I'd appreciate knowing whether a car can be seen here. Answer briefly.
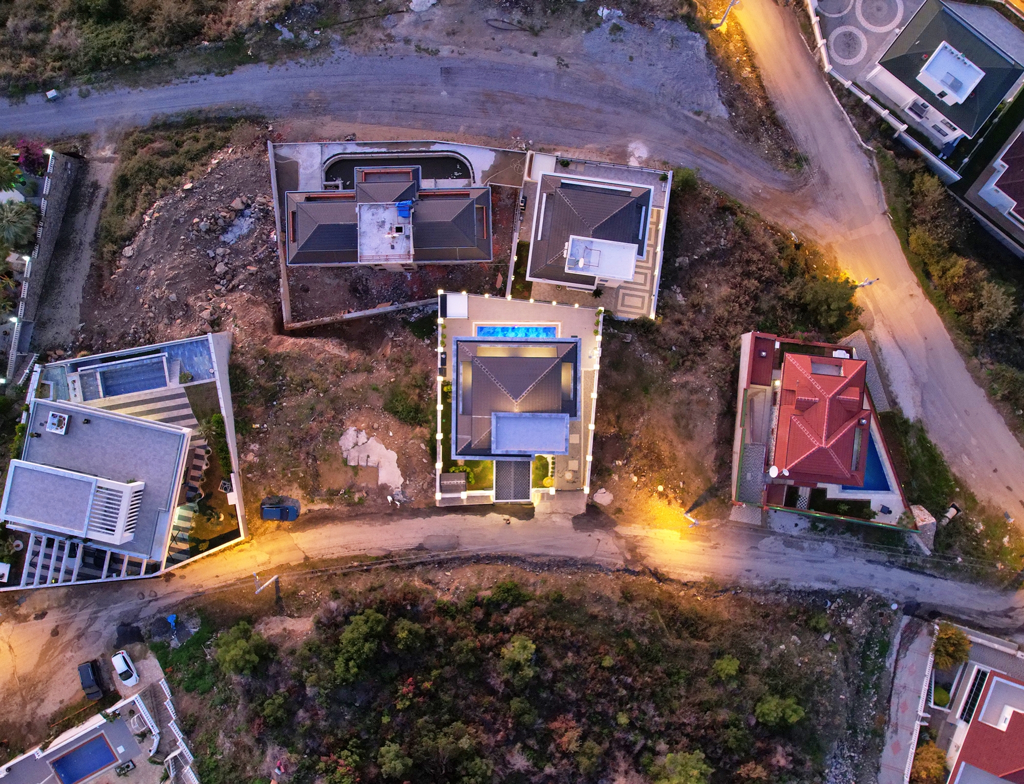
Yes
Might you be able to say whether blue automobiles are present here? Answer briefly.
Yes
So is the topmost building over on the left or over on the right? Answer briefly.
right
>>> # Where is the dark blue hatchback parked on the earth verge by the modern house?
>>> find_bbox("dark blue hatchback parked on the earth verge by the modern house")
[258,504,298,523]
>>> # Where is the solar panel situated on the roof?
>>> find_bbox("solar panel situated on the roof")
[946,72,968,91]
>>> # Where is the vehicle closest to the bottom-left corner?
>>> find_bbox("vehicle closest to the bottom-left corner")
[73,663,100,703]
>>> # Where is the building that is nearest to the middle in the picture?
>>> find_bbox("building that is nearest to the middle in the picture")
[451,337,581,461]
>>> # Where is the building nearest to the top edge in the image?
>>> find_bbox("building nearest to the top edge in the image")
[858,0,1024,143]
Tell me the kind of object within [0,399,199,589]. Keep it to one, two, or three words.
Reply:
house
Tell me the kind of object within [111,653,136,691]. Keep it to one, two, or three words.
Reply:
car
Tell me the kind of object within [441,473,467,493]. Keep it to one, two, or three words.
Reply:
shed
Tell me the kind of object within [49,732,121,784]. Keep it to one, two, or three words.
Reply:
swimming pool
